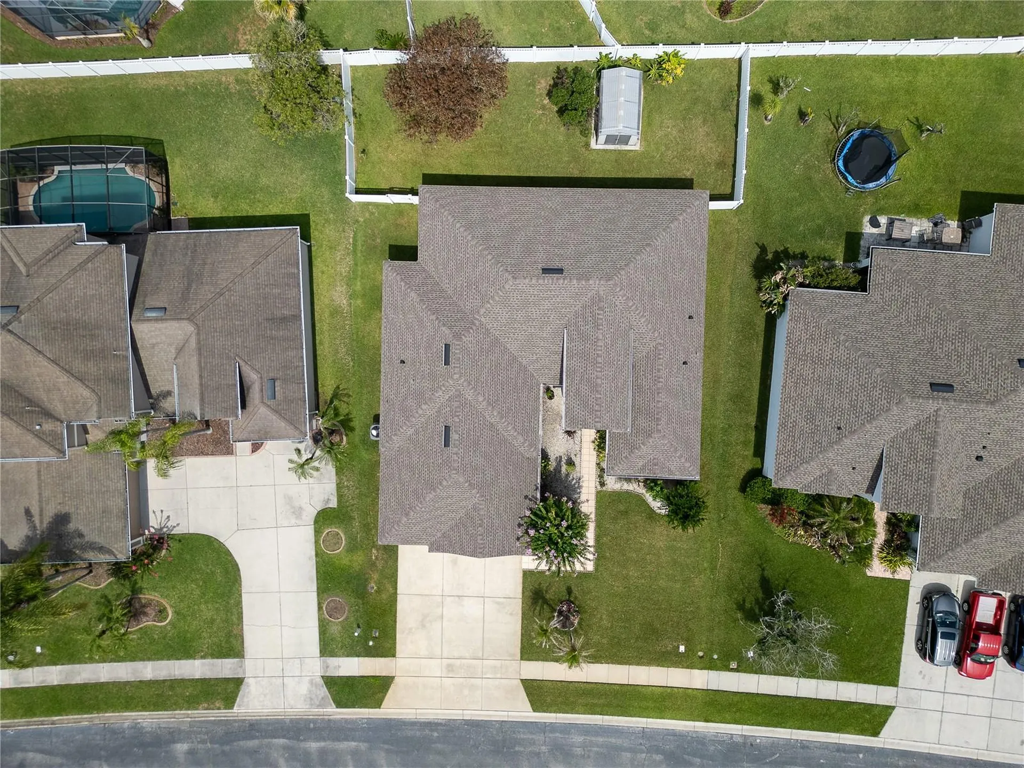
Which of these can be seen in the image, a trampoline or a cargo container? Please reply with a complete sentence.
Visible in the photo is a trampoline.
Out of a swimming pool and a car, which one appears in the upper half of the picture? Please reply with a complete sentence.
Looking in the upper half of the picture, you will find a swimming pool.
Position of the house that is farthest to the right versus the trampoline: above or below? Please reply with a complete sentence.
The house that is farthest to the right is found below the trampoline in the photo.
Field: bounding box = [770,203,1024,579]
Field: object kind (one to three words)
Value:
house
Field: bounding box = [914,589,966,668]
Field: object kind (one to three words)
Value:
car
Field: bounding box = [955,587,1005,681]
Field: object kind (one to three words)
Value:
truck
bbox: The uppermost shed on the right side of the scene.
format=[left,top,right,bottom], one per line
[599,67,642,141]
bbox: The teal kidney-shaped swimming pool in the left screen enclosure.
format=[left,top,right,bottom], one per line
[29,161,161,236]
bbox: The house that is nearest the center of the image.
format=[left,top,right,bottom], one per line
[376,185,708,558]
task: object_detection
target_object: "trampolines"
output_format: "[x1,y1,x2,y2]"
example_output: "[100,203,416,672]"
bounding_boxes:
[828,115,915,201]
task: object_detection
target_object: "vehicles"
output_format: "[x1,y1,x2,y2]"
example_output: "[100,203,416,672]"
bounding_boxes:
[1000,593,1024,670]
[955,587,1005,681]
[914,589,966,668]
